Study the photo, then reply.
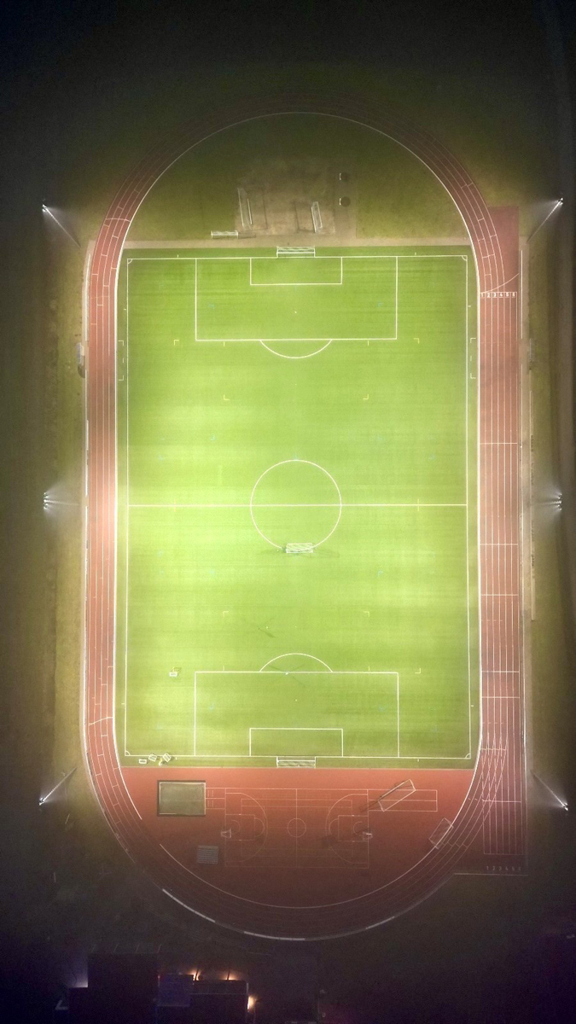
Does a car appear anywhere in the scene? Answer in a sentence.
No, the picture doesn't show any car.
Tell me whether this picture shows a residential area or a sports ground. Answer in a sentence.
The picture captures a sports ground.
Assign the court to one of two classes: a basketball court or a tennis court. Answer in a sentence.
In the photo, the court shows up as a basketball court.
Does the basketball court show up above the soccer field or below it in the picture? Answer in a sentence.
You can see the basketball court below the soccer field in the frame.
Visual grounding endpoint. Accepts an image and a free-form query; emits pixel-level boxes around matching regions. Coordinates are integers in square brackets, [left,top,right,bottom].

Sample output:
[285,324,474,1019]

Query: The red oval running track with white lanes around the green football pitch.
[87,87,526,934]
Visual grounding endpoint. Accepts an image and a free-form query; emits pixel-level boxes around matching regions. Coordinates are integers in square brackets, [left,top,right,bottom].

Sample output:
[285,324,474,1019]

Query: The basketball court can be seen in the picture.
[225,788,368,868]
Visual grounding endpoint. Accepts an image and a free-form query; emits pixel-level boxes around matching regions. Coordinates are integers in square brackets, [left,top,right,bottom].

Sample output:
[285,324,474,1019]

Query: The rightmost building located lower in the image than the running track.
[189,971,249,1024]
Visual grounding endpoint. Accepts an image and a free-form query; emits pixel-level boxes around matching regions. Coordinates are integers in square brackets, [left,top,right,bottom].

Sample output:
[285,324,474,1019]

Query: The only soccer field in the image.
[115,245,481,769]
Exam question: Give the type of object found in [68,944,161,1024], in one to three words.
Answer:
building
